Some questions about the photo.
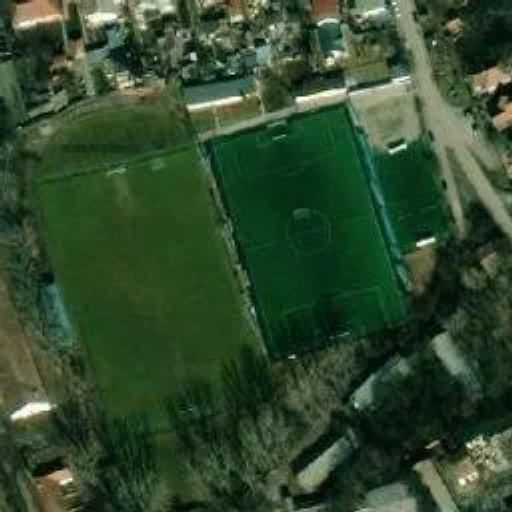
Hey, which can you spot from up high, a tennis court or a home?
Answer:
home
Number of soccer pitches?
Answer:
three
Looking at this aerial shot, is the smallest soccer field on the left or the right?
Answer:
right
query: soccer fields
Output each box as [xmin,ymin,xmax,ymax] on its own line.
[369,142,447,250]
[212,104,407,356]
[40,148,276,425]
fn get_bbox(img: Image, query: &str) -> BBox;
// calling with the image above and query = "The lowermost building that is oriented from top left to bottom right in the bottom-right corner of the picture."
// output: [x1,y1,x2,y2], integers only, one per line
[414,458,464,512]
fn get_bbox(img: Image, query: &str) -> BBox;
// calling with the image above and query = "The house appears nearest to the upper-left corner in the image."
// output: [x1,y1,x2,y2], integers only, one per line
[10,0,63,29]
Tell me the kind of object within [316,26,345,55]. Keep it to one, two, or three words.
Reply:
house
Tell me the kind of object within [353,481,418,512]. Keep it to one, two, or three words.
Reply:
building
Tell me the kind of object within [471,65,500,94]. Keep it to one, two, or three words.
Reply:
house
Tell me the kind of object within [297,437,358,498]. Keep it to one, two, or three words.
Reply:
building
